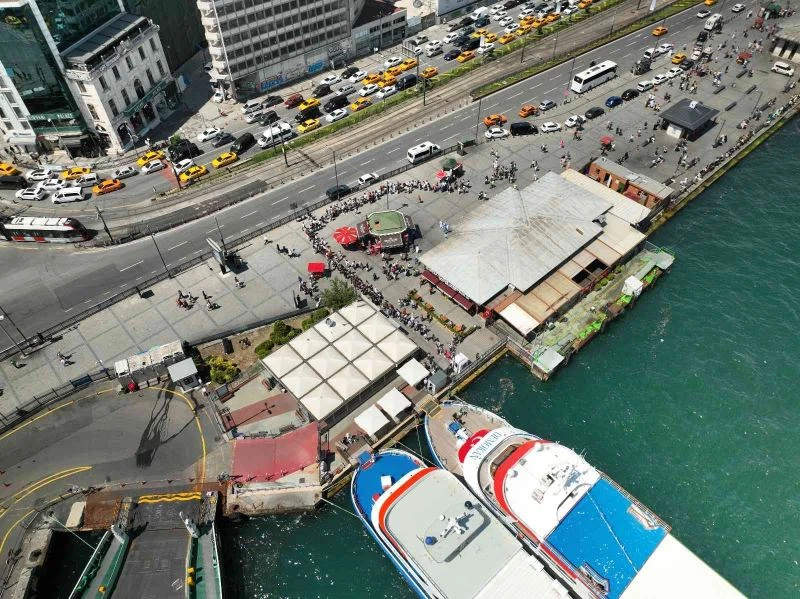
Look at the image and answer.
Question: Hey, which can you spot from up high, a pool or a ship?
ship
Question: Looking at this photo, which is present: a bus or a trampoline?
bus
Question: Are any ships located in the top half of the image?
No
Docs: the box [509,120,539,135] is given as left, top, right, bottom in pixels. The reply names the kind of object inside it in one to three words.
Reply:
vehicle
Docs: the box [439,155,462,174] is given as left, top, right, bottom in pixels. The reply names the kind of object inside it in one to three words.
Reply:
umbrella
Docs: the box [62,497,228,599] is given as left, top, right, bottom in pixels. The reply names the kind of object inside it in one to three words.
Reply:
ship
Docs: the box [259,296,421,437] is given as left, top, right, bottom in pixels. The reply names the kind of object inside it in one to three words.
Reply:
building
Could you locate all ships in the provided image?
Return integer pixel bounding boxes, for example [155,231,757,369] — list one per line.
[350,443,564,599]
[62,497,228,599]
[412,393,766,599]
